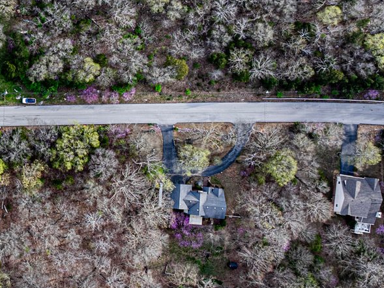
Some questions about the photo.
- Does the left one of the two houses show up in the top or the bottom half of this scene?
bottom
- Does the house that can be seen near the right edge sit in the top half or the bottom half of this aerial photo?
bottom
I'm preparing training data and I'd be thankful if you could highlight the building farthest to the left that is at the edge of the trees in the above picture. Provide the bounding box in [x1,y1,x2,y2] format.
[169,184,228,226]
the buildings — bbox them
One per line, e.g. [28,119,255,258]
[335,176,383,234]
[169,184,228,226]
